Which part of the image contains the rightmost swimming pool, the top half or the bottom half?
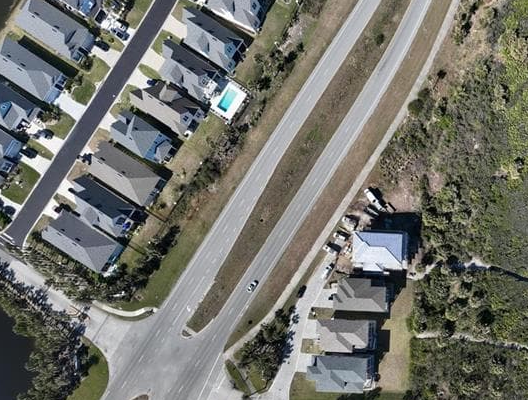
top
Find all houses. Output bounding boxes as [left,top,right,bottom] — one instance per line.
[60,0,107,22]
[108,110,177,163]
[42,210,127,274]
[335,278,392,311]
[86,140,171,202]
[207,0,280,36]
[156,42,222,103]
[310,355,374,392]
[182,12,256,73]
[11,0,98,65]
[130,77,203,139]
[66,182,149,243]
[320,319,376,352]
[0,85,44,130]
[0,130,28,173]
[353,232,408,271]
[0,38,72,104]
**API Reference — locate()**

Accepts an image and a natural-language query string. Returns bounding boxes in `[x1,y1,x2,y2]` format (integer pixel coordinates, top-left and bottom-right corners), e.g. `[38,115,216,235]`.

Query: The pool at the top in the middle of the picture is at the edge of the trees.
[210,82,247,119]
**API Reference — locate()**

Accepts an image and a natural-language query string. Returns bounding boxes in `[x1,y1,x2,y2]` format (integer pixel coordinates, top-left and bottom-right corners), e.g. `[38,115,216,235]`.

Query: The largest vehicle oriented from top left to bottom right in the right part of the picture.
[365,188,384,210]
